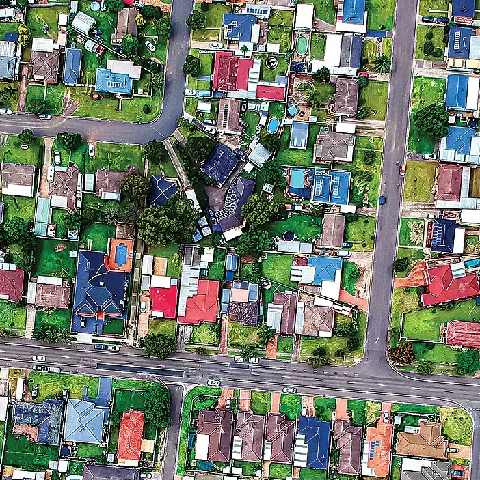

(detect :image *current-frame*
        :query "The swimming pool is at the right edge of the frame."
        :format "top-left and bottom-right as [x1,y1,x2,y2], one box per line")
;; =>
[463,257,480,269]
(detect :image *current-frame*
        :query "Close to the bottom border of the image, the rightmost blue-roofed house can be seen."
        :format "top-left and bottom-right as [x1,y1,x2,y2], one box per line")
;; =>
[294,416,331,473]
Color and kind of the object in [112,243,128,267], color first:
blue swimming pool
